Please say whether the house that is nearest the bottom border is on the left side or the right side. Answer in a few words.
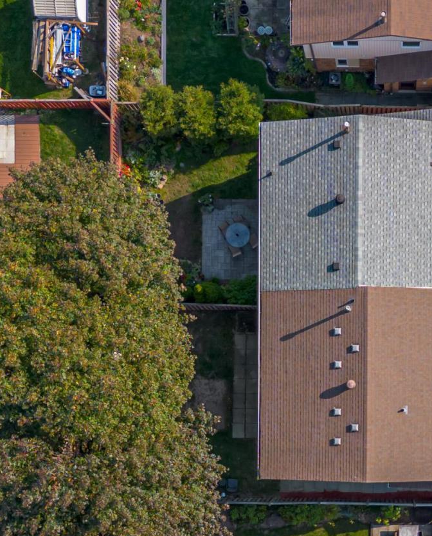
right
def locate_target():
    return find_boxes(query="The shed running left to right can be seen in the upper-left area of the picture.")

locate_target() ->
[33,0,104,29]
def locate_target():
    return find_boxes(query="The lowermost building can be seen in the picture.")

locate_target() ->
[255,287,432,491]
